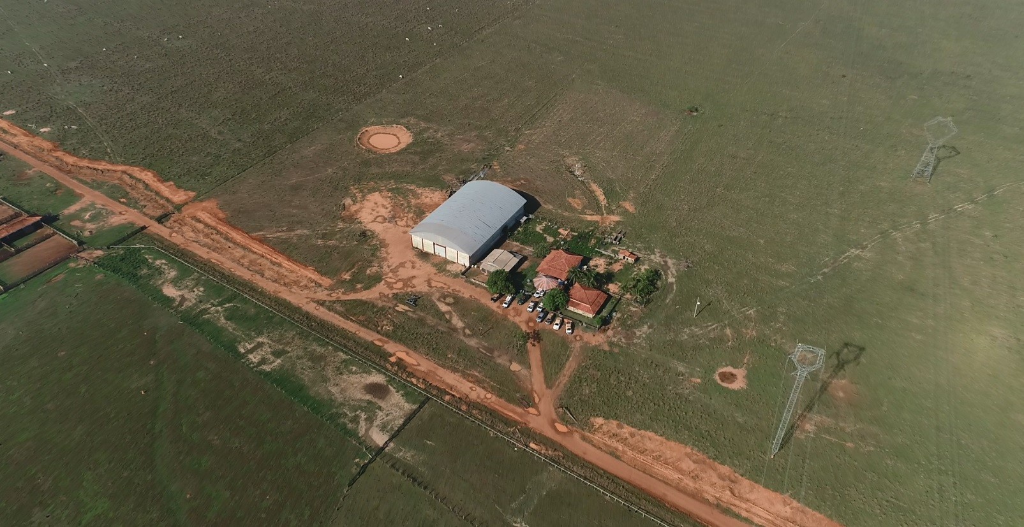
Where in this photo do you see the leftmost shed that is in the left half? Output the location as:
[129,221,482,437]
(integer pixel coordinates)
[0,212,43,246]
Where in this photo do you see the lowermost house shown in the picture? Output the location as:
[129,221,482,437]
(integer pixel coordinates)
[563,283,608,321]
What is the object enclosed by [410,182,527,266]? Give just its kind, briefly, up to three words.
building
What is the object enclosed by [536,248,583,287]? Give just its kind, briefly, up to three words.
house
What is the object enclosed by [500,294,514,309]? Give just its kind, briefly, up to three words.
car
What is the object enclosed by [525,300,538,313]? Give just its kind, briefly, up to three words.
vehicle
